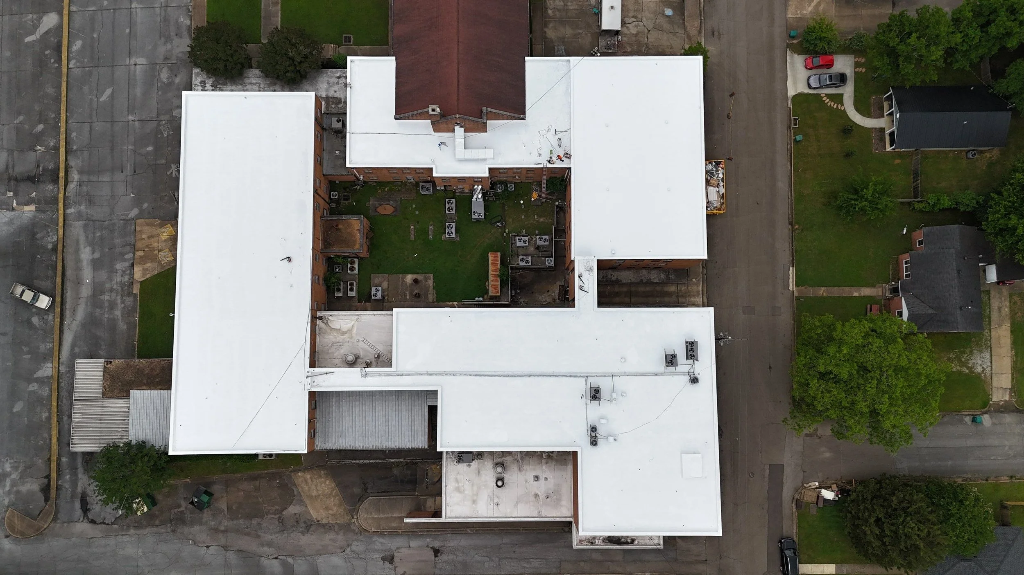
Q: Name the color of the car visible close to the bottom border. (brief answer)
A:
black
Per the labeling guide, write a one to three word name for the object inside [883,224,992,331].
house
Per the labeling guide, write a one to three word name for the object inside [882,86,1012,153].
house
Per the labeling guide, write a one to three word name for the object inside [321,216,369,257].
shed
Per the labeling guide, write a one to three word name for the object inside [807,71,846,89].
car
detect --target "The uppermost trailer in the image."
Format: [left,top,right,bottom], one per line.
[599,0,621,38]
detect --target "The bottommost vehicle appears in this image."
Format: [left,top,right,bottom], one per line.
[776,536,799,575]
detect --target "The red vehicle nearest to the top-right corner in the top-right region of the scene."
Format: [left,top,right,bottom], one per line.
[802,53,834,71]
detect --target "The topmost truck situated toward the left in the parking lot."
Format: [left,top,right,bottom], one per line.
[10,282,54,309]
